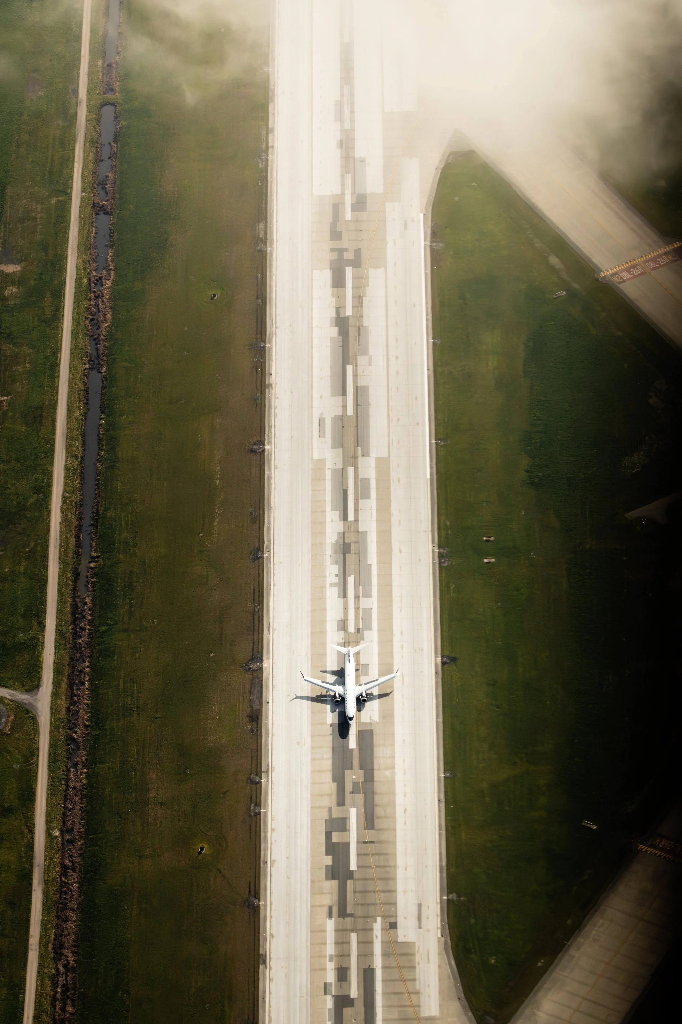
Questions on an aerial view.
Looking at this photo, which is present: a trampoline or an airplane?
airplane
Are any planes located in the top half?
No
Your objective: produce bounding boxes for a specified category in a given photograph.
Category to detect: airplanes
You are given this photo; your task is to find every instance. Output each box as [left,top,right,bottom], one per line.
[300,630,399,725]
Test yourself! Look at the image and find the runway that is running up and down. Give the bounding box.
[265,0,442,1024]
